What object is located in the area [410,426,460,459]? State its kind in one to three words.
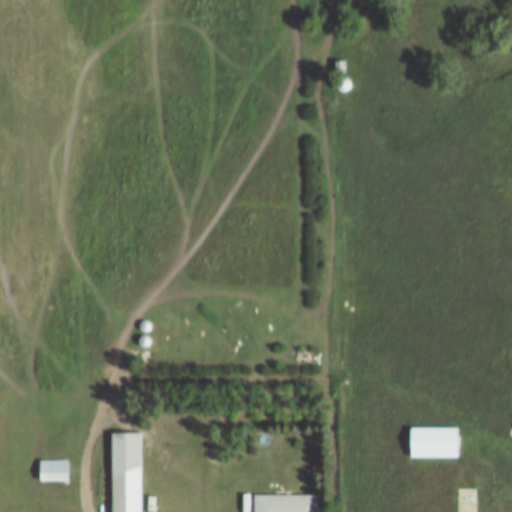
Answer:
shed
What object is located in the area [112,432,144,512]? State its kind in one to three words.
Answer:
barn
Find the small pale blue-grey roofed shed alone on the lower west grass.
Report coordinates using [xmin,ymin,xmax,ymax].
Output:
[39,460,71,482]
